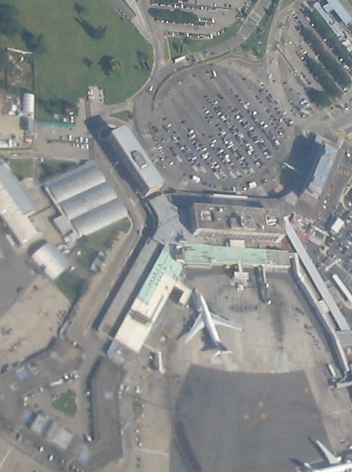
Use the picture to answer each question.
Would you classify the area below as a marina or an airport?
airport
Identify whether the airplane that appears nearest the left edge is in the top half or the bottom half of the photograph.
bottom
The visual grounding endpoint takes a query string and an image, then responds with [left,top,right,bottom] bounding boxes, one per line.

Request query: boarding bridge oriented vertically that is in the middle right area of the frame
[258,265,271,305]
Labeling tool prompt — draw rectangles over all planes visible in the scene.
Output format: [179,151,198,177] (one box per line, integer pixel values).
[188,289,241,353]
[300,443,352,472]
